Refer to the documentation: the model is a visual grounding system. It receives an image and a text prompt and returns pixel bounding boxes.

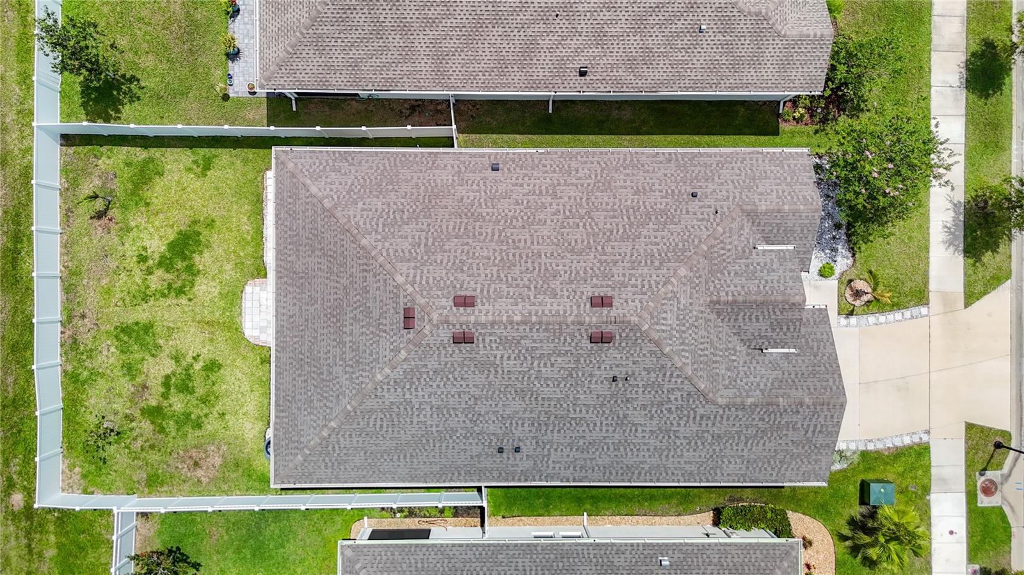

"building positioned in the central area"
[271,147,846,489]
